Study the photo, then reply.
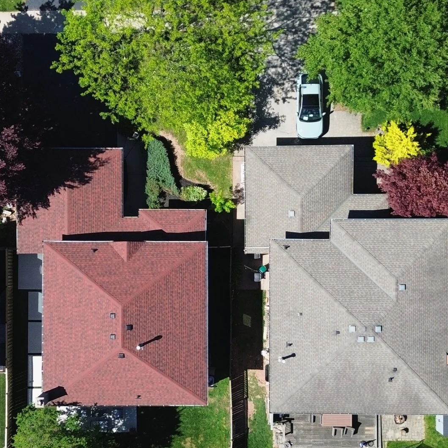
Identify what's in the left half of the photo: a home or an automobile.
home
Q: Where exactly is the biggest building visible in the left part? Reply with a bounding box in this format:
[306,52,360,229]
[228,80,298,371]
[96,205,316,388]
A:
[14,146,209,409]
